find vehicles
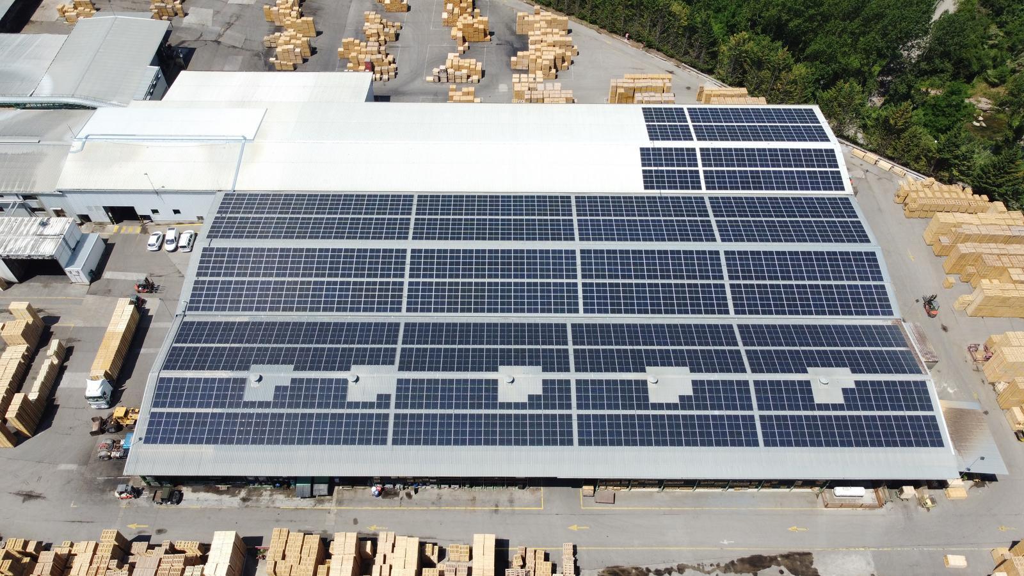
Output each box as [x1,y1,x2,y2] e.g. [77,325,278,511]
[178,230,195,250]
[147,487,184,508]
[131,275,160,293]
[94,432,135,459]
[136,290,152,307]
[78,299,142,407]
[92,409,138,435]
[109,482,145,500]
[163,224,178,250]
[923,292,947,318]
[148,231,165,249]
